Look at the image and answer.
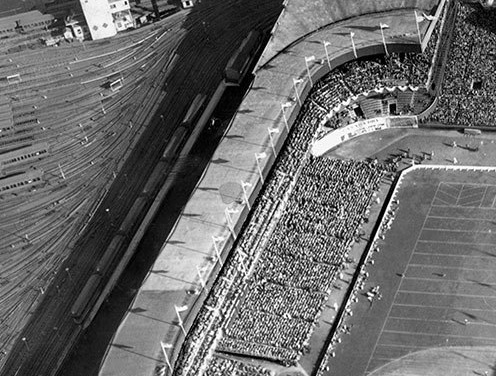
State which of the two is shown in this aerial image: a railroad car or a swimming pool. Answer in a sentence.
This aerial view contains a railroad car.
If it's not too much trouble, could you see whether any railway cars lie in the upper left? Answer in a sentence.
Yes, looking in the upper left, one can make out a railway car.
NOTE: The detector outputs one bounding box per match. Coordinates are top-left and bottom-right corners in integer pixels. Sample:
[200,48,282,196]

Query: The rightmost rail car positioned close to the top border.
[16,7,59,32]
